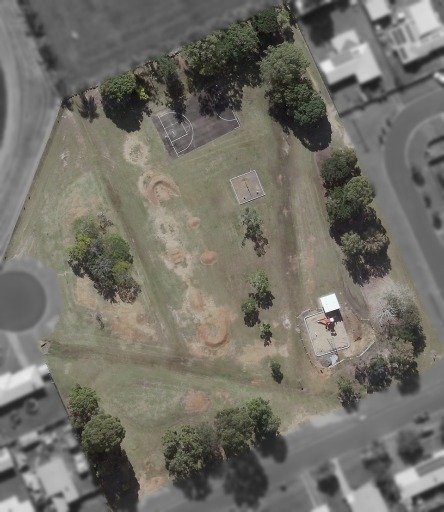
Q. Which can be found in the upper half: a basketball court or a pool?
basketball court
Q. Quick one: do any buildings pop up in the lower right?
Yes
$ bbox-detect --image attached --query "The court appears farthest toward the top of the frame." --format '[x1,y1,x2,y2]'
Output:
[152,82,242,160]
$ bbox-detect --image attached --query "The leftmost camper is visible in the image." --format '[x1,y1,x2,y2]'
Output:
[74,454,88,472]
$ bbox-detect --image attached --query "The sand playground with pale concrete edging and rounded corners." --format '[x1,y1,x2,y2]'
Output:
[304,306,350,356]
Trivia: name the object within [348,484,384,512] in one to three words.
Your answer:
house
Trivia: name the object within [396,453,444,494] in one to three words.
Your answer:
house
